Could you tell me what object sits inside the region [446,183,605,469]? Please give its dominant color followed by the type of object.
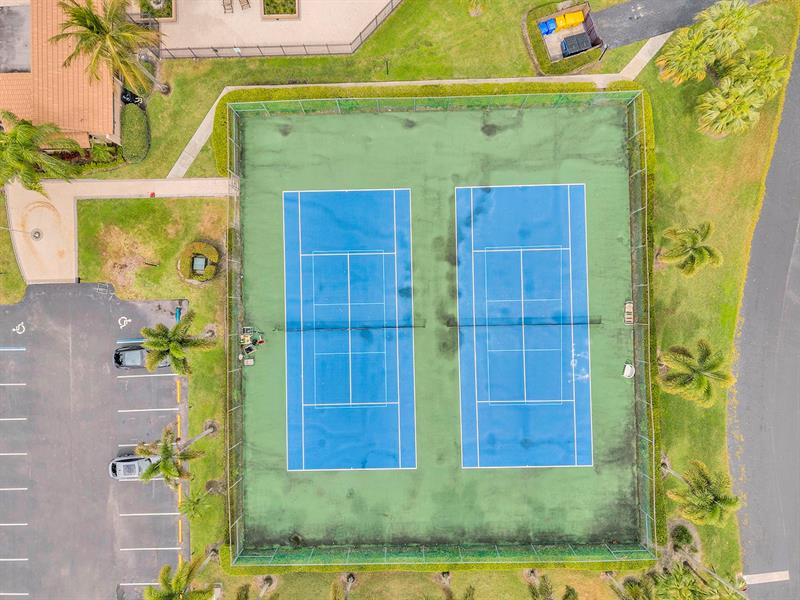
blue tennis court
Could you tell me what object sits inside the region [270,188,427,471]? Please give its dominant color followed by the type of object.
blue tennis court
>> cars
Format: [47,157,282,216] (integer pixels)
[115,344,173,371]
[112,454,162,482]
